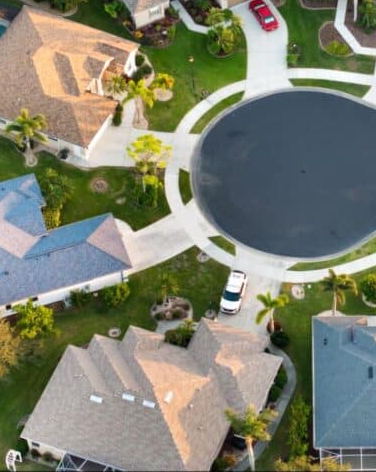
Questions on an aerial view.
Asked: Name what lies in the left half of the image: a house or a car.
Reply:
house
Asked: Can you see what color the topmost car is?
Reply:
red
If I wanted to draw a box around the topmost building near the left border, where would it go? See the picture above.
[0,5,139,155]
